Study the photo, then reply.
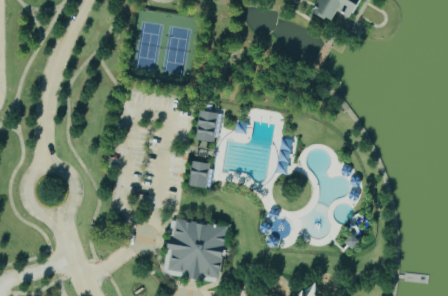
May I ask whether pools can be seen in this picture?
Yes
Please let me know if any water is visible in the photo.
Yes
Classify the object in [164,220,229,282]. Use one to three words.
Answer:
building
